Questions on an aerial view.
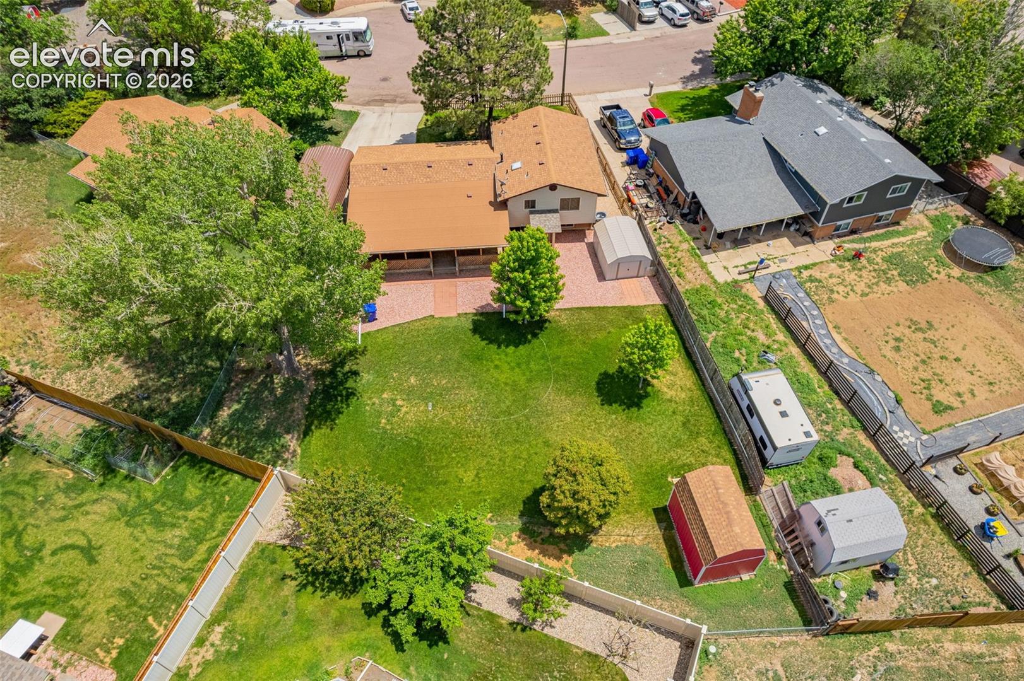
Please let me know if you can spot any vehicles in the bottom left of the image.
No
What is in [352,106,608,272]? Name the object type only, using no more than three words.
house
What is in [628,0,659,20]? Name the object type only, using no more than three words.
vehicle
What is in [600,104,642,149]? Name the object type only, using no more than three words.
truck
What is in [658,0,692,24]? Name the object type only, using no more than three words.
car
